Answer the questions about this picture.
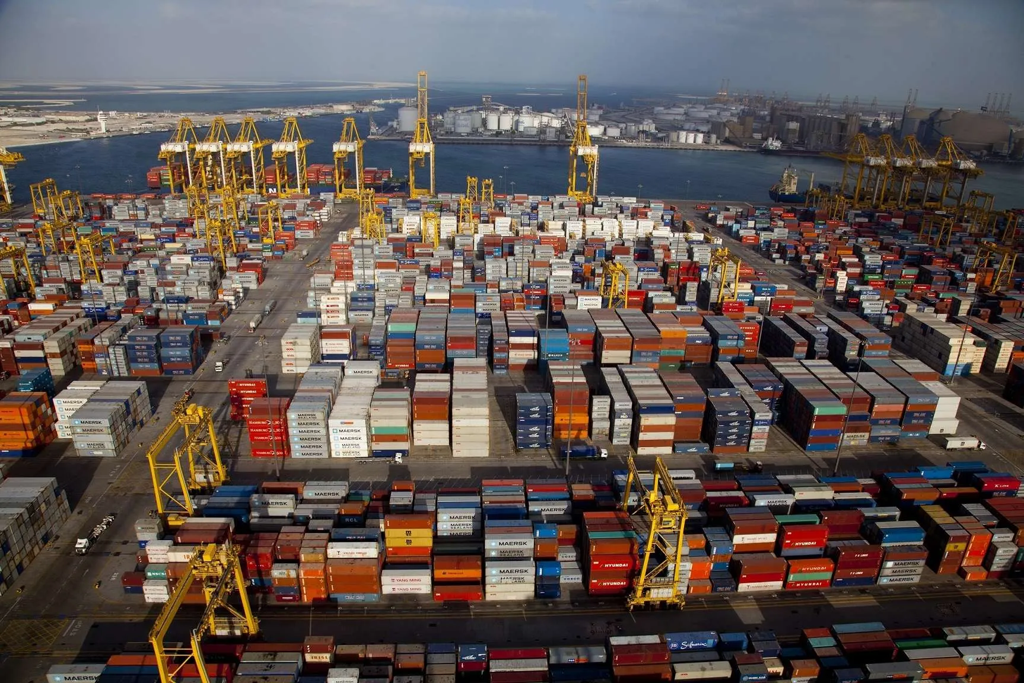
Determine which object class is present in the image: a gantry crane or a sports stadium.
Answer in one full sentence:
It is a gantry crane that can be seen here.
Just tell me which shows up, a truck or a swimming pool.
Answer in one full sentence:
This aerial view contains a truck.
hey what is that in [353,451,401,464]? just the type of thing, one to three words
vehicle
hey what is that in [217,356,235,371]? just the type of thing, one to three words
vehicle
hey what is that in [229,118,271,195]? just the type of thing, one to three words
container crane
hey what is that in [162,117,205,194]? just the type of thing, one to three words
container crane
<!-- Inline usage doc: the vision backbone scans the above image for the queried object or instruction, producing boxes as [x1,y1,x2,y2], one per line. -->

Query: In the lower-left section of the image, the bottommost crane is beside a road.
[152,530,263,683]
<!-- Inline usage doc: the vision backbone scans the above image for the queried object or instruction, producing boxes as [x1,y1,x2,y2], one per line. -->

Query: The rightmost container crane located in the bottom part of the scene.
[621,455,691,607]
